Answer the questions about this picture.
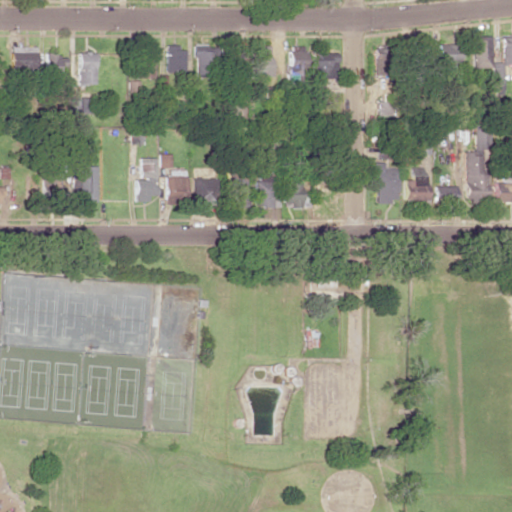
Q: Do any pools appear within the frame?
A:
Yes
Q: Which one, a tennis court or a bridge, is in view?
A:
tennis court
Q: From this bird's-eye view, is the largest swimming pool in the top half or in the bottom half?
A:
bottom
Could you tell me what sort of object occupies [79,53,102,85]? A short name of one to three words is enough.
house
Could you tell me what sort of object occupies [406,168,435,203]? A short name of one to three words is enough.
house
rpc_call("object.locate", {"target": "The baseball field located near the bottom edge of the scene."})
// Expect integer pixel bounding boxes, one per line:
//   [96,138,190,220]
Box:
[320,470,376,512]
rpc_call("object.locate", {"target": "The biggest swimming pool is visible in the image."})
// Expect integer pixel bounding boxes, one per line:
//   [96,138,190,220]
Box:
[236,366,294,443]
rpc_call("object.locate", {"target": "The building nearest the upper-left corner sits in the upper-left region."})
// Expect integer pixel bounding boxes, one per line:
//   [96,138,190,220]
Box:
[11,46,43,71]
